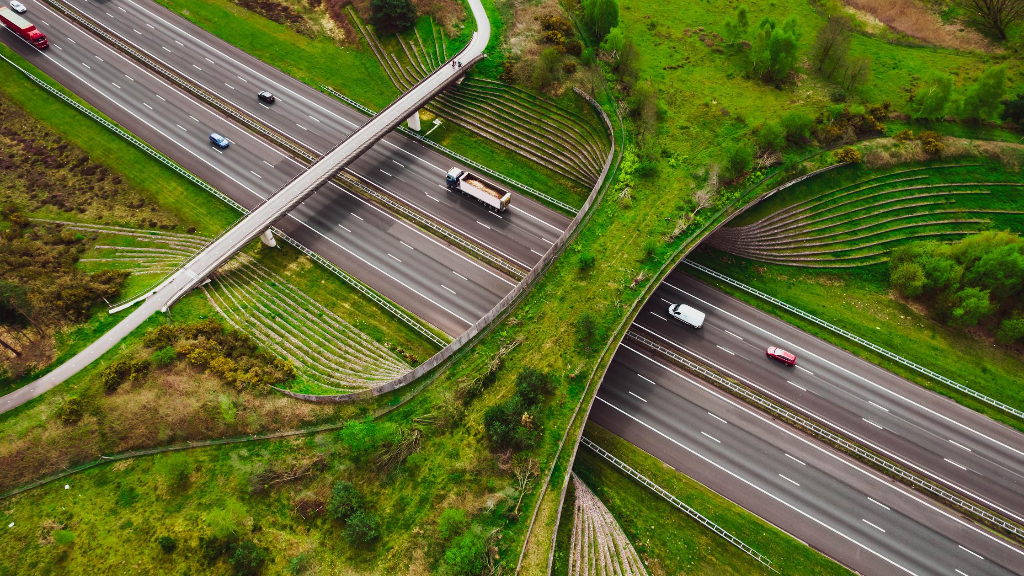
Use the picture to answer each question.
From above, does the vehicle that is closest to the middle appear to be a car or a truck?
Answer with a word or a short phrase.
truck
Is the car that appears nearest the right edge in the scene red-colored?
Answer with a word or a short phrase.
Yes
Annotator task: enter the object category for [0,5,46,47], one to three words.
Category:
truck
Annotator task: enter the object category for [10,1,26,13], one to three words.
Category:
vehicle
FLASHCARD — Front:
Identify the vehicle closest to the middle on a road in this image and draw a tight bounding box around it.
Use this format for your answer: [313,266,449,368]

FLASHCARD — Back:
[446,165,511,213]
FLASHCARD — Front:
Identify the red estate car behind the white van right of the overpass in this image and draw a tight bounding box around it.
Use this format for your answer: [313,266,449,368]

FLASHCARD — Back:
[766,347,797,367]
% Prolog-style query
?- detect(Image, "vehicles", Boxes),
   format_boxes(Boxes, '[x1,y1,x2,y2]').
[257,92,275,104]
[210,132,230,148]
[0,5,46,47]
[10,1,26,13]
[668,305,707,331]
[446,165,511,213]
[766,347,797,367]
